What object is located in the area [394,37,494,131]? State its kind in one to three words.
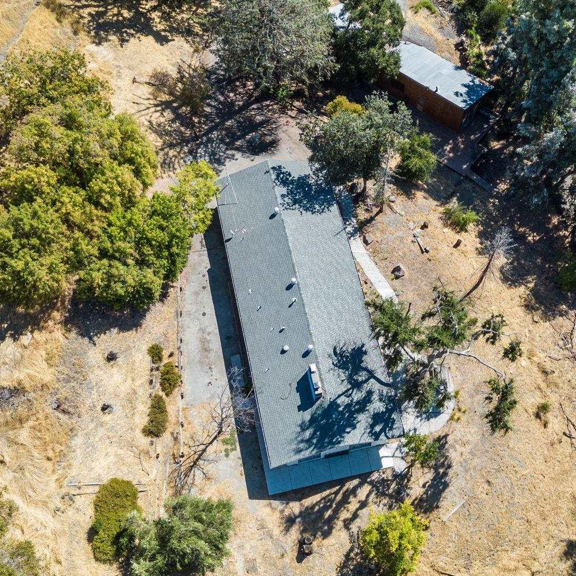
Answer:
building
